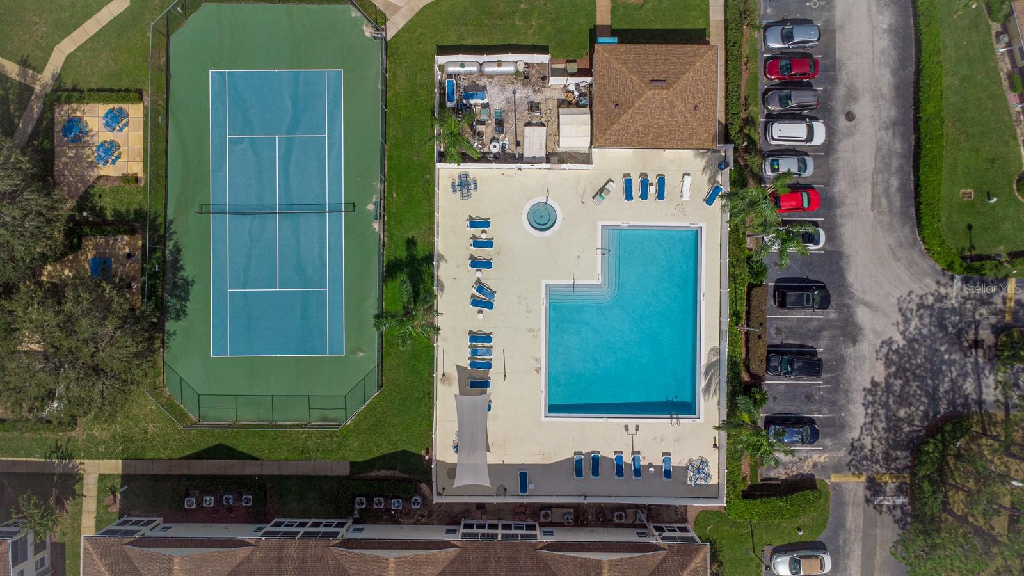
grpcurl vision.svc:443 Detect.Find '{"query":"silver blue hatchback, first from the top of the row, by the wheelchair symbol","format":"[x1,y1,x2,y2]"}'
[763,22,822,52]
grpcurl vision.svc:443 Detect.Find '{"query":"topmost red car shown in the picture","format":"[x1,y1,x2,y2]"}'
[762,55,820,84]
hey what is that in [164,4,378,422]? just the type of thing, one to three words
tennis court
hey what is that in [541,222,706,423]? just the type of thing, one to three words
swimming pool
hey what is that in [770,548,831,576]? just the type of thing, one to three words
car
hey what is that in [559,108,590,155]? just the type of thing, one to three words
shed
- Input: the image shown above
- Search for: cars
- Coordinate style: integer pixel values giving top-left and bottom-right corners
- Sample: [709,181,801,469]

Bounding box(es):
[772,283,830,310]
[766,118,825,147]
[770,548,831,576]
[770,421,820,448]
[762,55,820,84]
[763,22,822,52]
[765,352,827,380]
[760,153,814,179]
[767,188,821,214]
[761,85,824,114]
[791,225,825,251]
